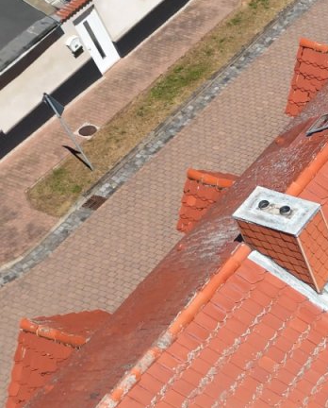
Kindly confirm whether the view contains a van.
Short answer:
No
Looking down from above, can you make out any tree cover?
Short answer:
No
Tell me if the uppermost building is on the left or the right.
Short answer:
left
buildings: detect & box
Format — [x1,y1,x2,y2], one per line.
[9,28,328,408]
[0,4,65,80]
